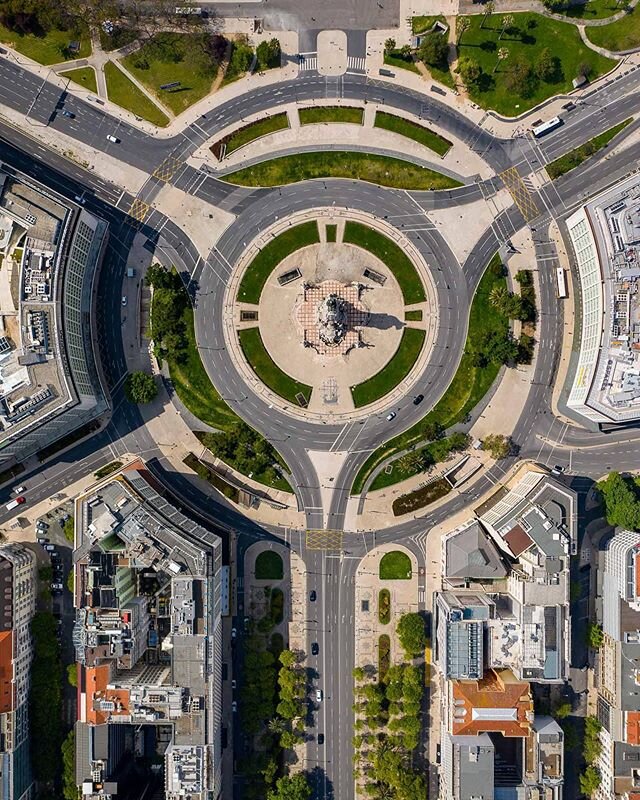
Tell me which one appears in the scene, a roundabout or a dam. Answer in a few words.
roundabout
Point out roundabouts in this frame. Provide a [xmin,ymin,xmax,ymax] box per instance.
[194,179,468,452]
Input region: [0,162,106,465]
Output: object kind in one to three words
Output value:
building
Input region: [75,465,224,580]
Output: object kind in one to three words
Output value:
building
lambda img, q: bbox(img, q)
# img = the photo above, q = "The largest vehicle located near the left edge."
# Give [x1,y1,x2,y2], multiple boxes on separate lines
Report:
[1,496,23,511]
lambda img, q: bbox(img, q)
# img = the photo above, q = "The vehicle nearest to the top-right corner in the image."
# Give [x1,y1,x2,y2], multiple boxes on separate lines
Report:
[534,115,563,134]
